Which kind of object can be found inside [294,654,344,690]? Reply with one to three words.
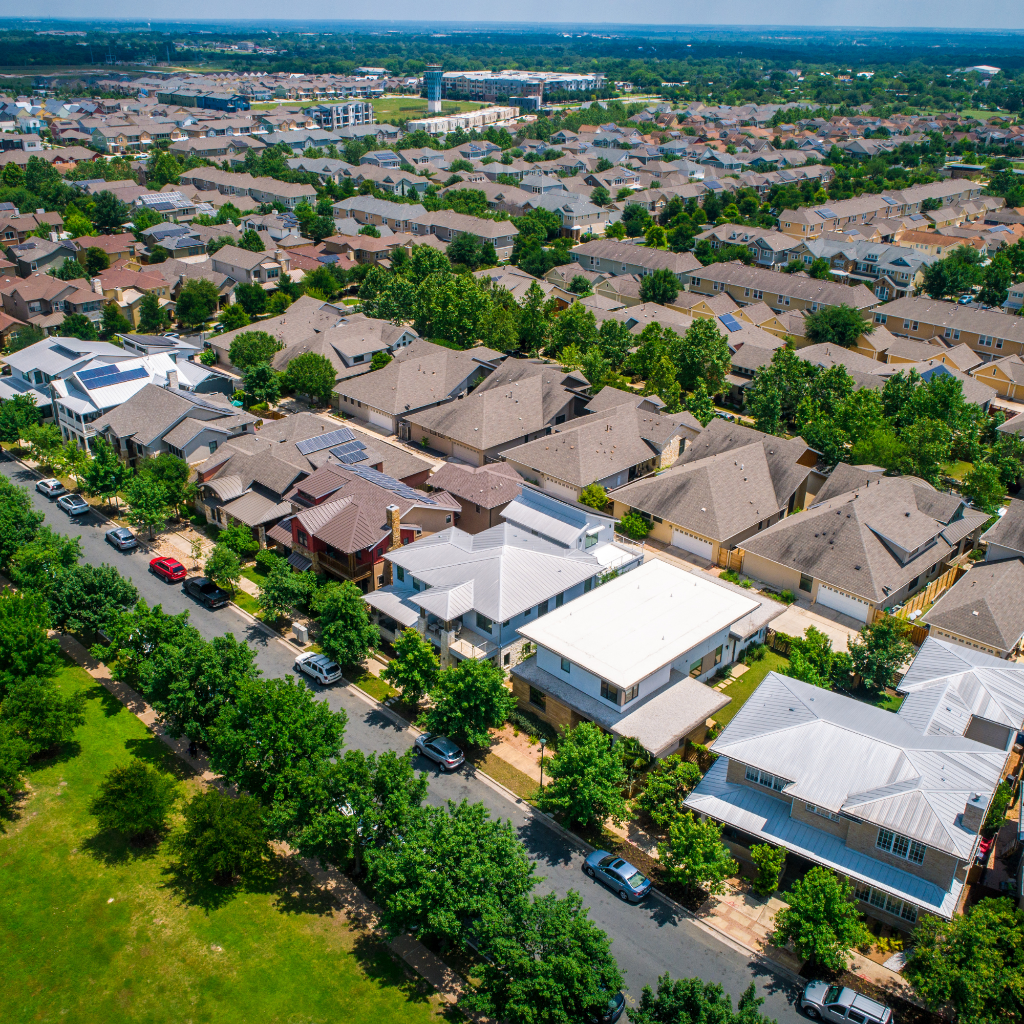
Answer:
car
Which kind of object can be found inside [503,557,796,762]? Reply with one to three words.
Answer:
house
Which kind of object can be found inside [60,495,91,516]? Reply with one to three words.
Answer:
car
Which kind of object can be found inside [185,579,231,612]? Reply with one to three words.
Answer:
truck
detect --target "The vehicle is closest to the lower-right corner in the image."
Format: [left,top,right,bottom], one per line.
[799,975,894,1024]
